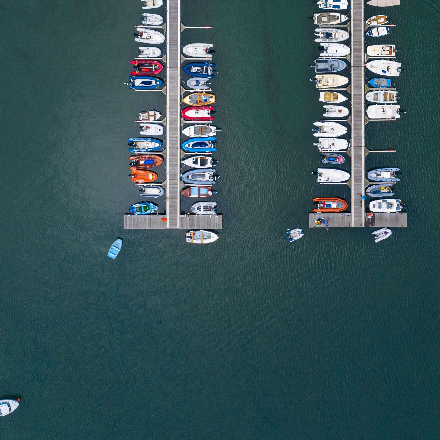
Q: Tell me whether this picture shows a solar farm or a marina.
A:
marina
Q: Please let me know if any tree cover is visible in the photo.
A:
No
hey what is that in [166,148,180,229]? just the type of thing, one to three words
pier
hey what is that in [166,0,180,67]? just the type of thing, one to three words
pier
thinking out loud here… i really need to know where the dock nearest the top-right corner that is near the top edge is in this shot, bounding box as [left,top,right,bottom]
[350,0,365,66]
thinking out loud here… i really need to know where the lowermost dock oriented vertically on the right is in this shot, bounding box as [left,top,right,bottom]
[351,147,365,227]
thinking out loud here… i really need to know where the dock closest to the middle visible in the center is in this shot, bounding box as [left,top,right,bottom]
[180,214,223,229]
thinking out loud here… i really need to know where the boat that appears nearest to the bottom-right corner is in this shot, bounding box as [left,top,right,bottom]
[373,228,392,242]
